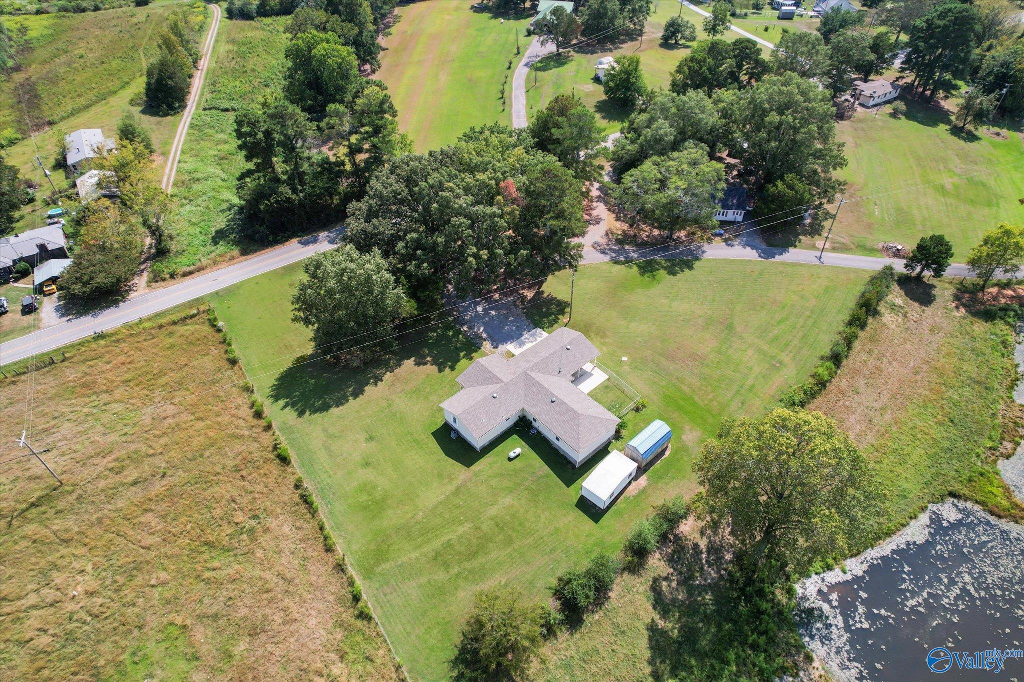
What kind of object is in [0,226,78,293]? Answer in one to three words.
house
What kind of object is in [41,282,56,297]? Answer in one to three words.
car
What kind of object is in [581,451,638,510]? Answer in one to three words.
shed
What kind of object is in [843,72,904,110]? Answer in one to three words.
house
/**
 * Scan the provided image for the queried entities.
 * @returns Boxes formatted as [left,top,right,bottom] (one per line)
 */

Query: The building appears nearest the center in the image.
[439,326,622,467]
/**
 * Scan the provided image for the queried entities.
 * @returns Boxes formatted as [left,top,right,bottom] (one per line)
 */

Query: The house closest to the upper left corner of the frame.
[62,128,120,176]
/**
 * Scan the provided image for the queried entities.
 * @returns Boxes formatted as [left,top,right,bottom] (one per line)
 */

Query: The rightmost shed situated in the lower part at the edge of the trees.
[625,428,676,475]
